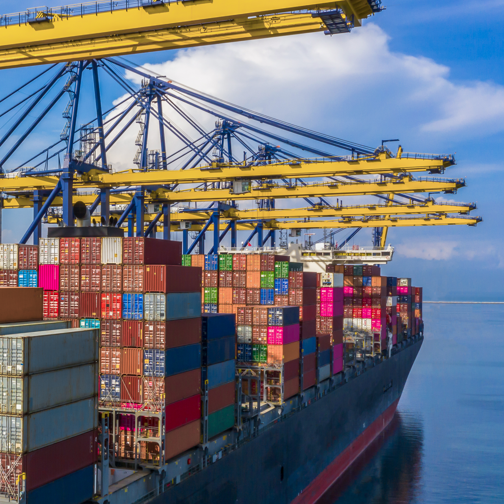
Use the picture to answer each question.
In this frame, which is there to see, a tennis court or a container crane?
container crane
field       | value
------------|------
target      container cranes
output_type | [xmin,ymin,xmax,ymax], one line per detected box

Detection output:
[309,148,410,277]
[0,54,459,245]
[41,112,481,345]
[0,0,381,69]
